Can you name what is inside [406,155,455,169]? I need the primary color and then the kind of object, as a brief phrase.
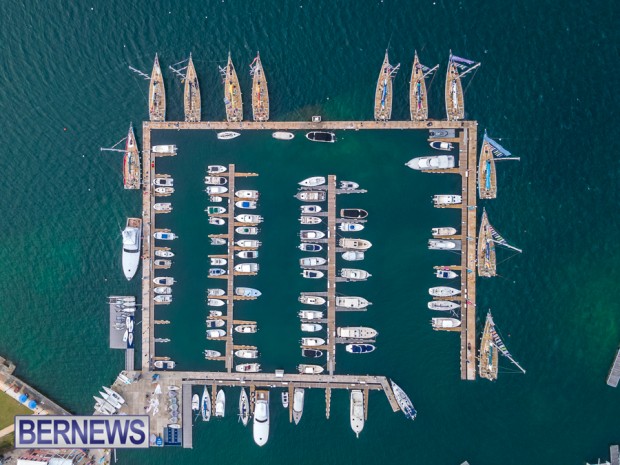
white boat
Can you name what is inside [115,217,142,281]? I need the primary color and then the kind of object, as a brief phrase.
white boat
